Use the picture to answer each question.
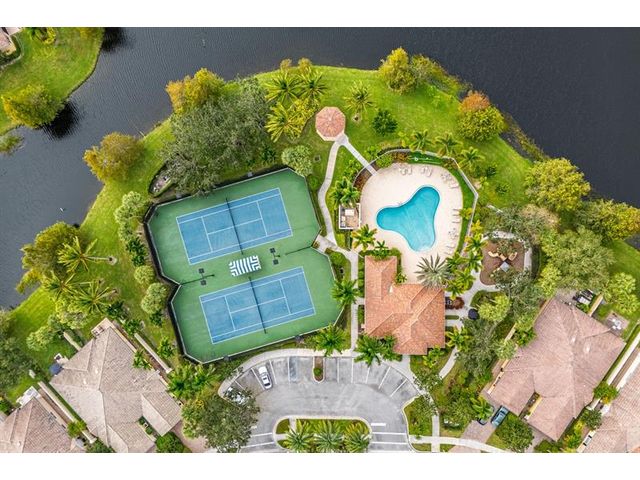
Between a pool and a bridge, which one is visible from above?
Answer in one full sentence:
Of the two, only a pool appears.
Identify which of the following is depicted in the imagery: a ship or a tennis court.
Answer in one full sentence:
The image shows a tennis court.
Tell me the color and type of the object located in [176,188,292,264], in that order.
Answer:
blue tennis court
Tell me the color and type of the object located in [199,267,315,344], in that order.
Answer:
blue tennis court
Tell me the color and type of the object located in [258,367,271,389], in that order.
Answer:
white vehicle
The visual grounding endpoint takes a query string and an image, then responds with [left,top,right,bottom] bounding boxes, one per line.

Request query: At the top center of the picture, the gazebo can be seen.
[316,109,344,140]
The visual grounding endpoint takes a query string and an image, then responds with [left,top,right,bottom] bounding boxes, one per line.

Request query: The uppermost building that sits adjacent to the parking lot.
[365,256,445,356]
